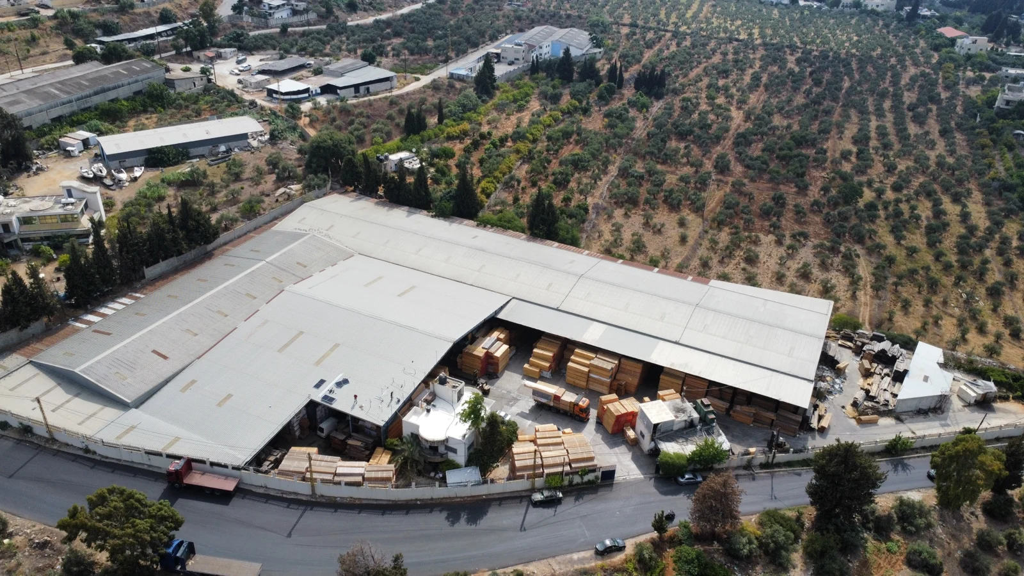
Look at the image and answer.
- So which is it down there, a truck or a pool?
truck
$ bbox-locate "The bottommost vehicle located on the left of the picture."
[164,542,261,576]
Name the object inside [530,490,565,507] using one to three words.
car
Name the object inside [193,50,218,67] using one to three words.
house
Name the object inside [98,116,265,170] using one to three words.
shed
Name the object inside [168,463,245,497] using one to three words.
truck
